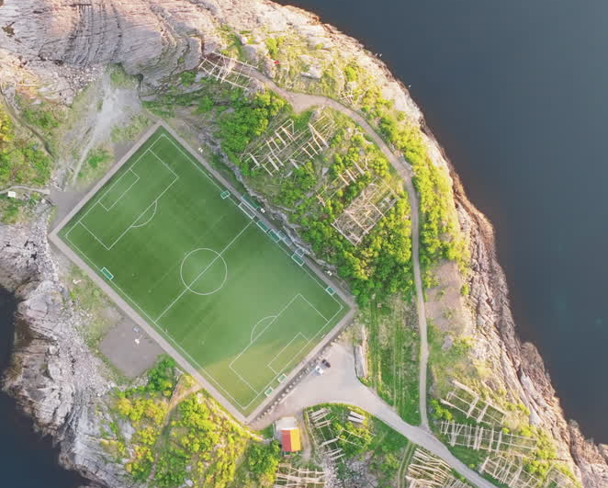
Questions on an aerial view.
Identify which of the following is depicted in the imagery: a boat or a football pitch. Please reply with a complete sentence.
Visible in the photo is a football pitch.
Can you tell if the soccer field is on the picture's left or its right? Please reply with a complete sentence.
You can find the soccer field on the left side of the picture.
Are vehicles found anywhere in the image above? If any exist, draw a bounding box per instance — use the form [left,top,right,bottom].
[314,365,324,374]
[322,358,332,369]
